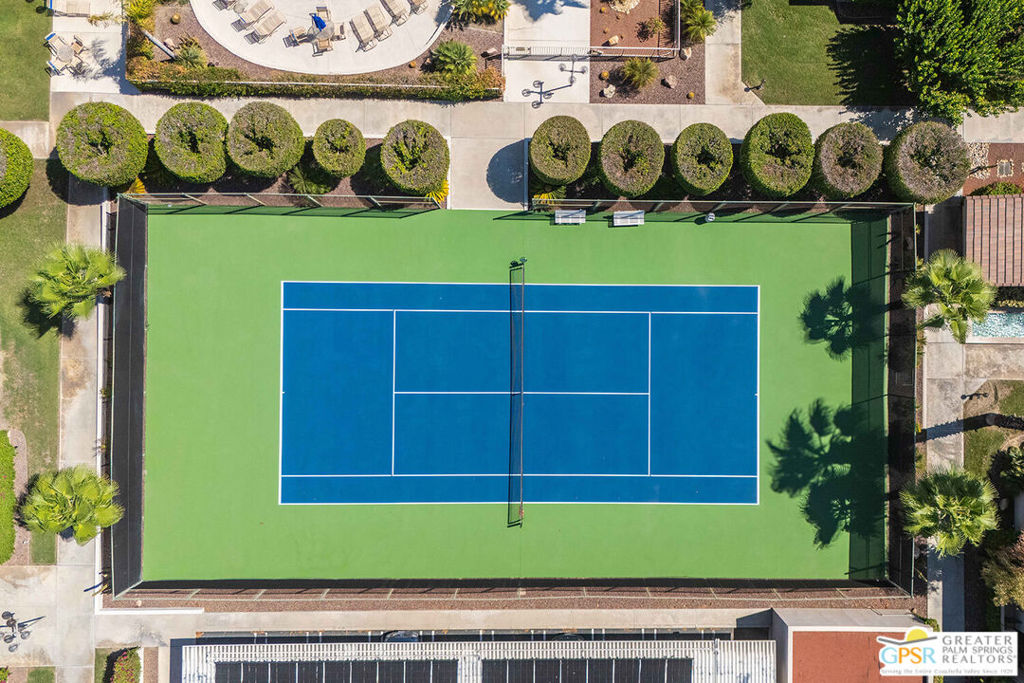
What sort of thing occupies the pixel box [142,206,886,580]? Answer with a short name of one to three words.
tennis court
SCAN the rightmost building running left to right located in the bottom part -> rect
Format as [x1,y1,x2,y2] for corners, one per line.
[772,606,932,683]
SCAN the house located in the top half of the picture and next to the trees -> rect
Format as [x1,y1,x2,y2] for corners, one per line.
[941,195,1024,287]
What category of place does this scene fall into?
sports ground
